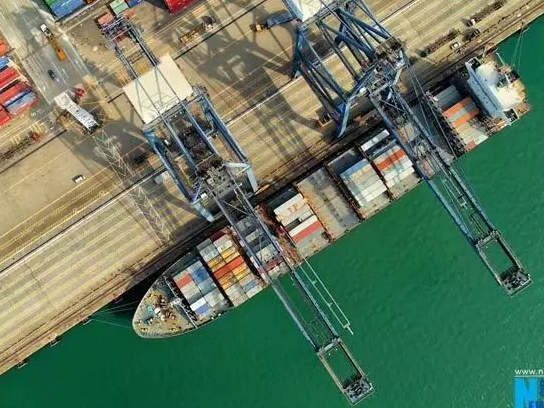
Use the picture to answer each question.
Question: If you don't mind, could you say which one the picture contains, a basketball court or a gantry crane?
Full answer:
The one in the frame is a gantry crane.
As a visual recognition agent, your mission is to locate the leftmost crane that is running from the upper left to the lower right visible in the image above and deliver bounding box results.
[99,12,377,407]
